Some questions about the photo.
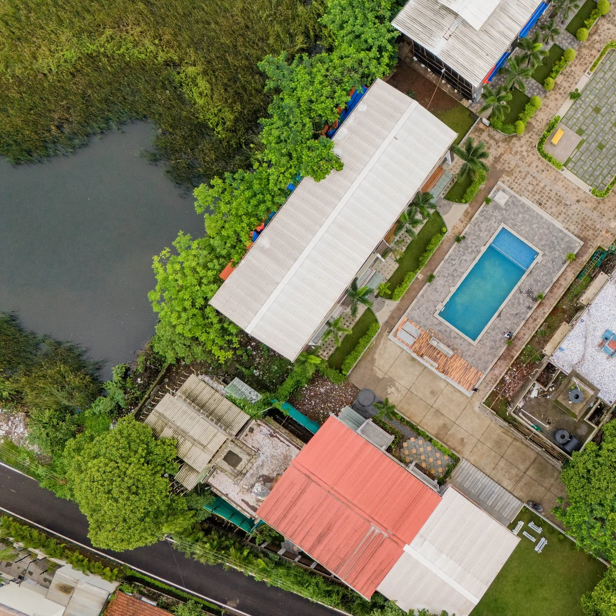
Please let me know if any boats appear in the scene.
No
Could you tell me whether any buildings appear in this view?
Yes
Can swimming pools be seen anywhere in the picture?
Yes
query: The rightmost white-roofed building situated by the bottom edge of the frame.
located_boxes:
[376,484,522,616]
